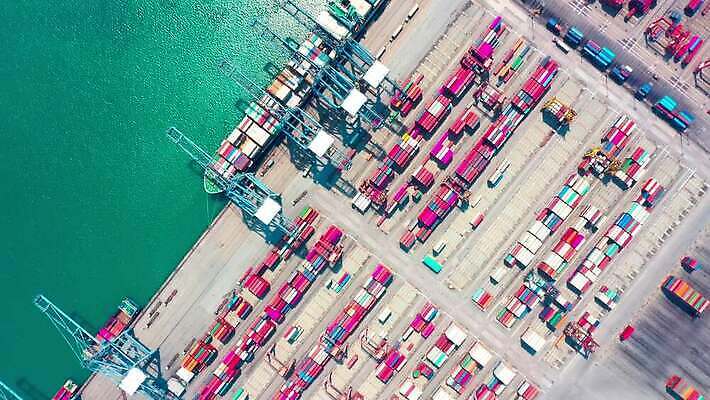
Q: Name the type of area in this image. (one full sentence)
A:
It's a port.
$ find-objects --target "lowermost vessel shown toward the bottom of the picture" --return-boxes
[60,371,83,400]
